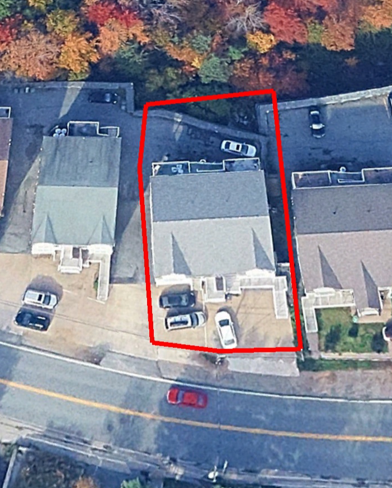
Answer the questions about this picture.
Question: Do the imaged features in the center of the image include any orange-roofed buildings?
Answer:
No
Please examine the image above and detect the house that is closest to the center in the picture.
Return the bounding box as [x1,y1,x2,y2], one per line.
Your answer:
[151,157,288,321]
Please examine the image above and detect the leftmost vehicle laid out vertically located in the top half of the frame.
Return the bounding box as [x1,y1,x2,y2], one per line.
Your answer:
[309,106,325,139]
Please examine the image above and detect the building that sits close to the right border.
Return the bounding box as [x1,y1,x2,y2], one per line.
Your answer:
[290,167,392,335]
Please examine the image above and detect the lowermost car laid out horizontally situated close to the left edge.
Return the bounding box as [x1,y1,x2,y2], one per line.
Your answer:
[14,309,52,331]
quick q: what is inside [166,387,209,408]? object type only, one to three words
car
